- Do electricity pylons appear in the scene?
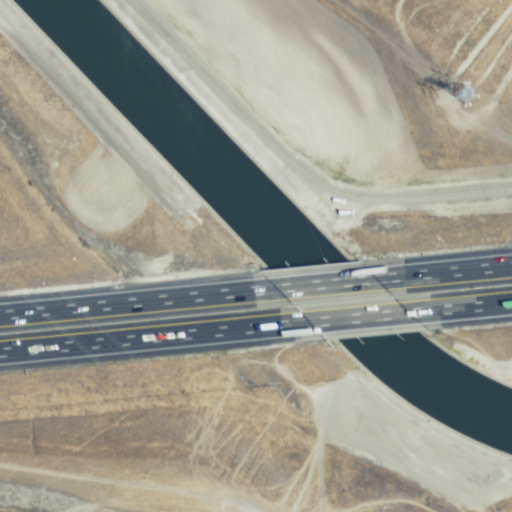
Yes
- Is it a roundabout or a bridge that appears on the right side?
bridge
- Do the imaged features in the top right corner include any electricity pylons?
Yes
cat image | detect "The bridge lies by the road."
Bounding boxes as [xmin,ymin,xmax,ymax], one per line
[257,257,441,345]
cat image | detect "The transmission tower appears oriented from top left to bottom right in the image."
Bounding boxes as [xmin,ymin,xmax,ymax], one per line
[456,77,481,108]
